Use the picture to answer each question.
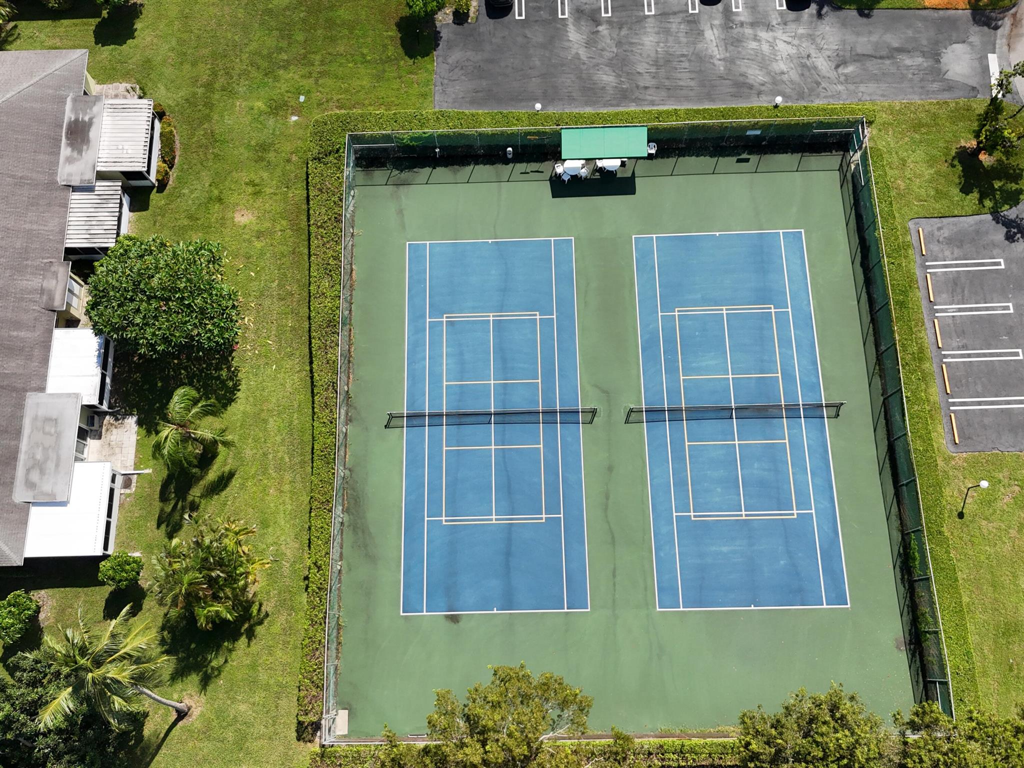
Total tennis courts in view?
2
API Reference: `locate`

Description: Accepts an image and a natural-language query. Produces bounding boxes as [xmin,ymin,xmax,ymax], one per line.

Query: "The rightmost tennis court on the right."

[633,230,849,610]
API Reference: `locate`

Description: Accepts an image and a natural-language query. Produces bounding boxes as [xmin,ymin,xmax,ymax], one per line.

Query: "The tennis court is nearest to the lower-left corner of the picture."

[401,237,589,614]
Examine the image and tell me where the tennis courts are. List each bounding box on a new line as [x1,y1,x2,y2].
[401,237,589,614]
[633,230,849,610]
